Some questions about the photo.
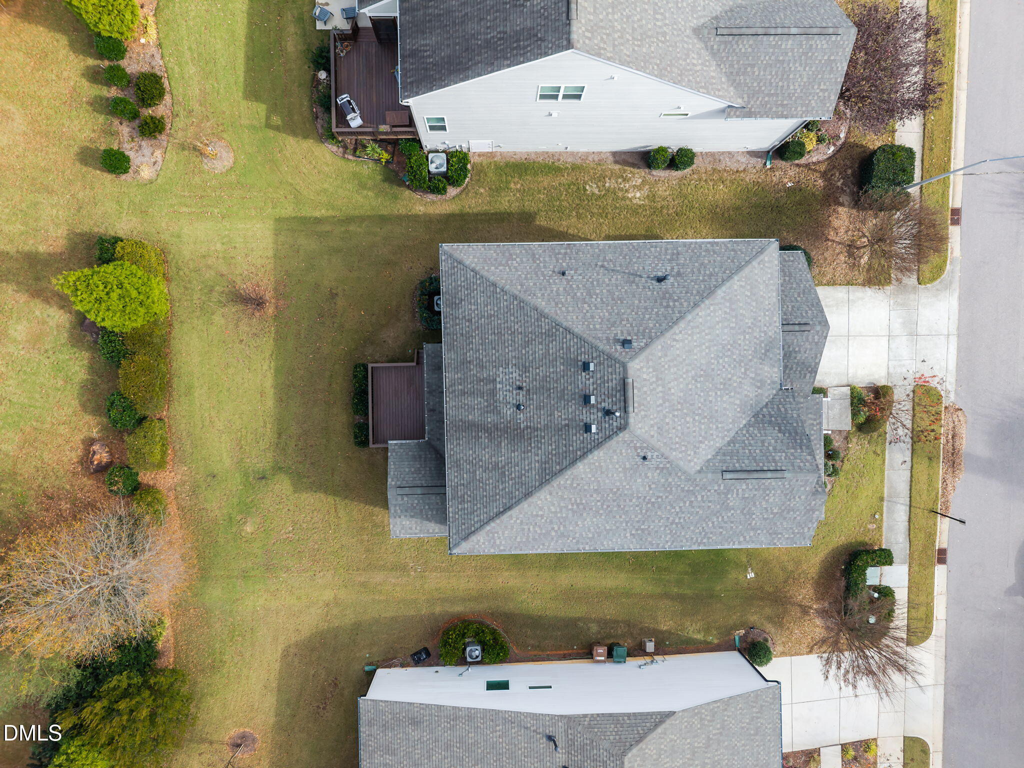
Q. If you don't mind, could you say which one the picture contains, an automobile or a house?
house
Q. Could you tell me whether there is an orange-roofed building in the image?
No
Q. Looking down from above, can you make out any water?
No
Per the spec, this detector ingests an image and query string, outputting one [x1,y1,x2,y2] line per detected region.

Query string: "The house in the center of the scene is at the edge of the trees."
[388,236,832,558]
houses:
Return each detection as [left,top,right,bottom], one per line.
[354,0,855,161]
[356,644,786,768]
[388,236,832,558]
